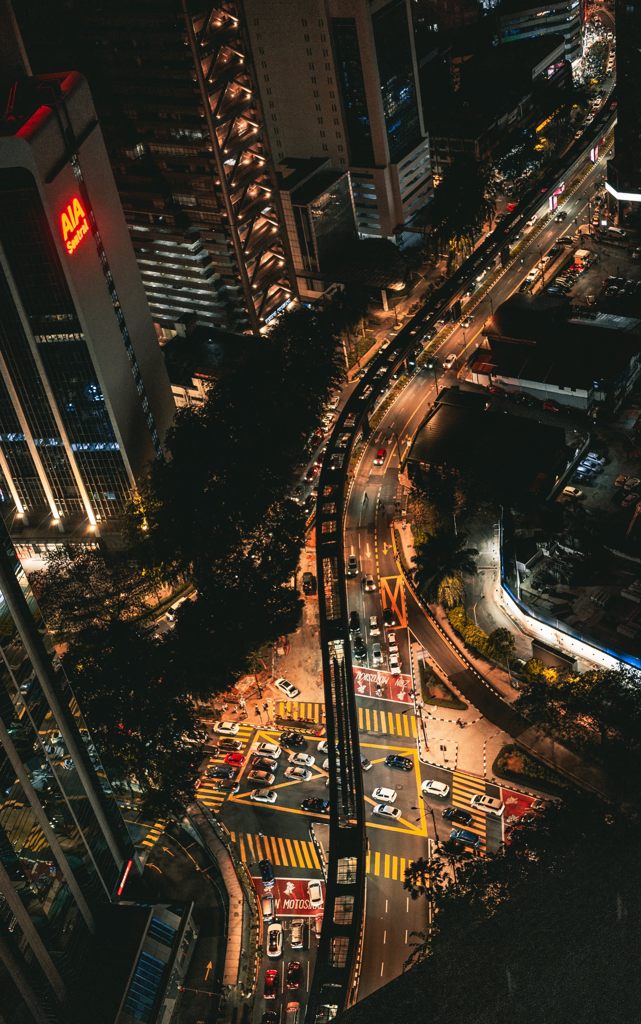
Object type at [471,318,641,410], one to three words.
shed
